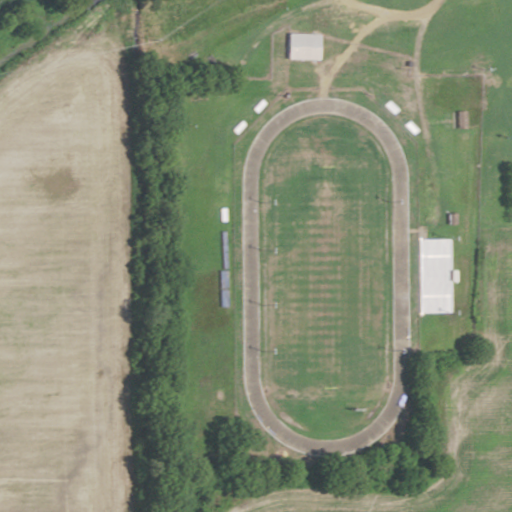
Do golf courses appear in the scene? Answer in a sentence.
No, there is no golf course in the image.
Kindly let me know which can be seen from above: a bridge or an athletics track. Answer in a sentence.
It is an athletics track that can be seen here.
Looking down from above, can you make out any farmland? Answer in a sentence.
Yes, there's farmland in this view.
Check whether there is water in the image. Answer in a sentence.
No, the picture contains no water.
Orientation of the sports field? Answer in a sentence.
From this overhead view, the sports field appears to run from top to bottom.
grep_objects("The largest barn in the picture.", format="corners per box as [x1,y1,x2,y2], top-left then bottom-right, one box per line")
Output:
[288,31,323,64]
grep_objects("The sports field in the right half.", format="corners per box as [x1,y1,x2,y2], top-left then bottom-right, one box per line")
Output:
[279,167,376,388]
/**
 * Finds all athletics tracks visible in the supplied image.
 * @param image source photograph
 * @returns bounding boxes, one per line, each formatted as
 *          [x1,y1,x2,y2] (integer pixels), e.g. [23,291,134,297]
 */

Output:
[243,98,409,456]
